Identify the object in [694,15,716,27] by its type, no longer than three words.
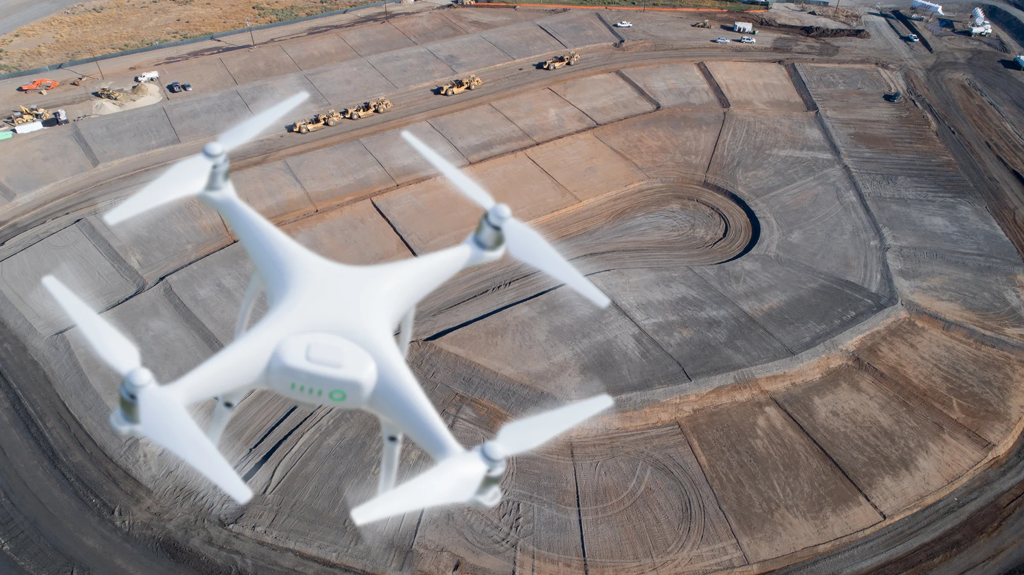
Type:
vehicle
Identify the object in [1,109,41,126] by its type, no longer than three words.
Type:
work vehicle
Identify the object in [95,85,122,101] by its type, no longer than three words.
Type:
work vehicle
